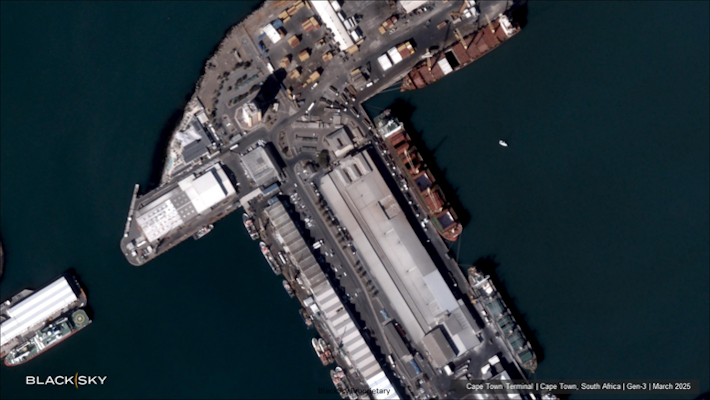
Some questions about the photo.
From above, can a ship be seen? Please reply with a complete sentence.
Yes, there's a ship down there.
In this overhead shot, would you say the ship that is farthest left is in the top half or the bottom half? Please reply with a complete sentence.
Seen from above, the ship that is farthest left lies in the bottom half of the view.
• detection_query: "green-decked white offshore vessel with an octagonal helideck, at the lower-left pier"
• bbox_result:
[5,308,92,365]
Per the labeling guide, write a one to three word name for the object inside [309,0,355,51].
shed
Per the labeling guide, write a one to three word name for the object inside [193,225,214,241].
boat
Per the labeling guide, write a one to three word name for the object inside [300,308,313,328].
boat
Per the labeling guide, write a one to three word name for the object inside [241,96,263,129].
building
